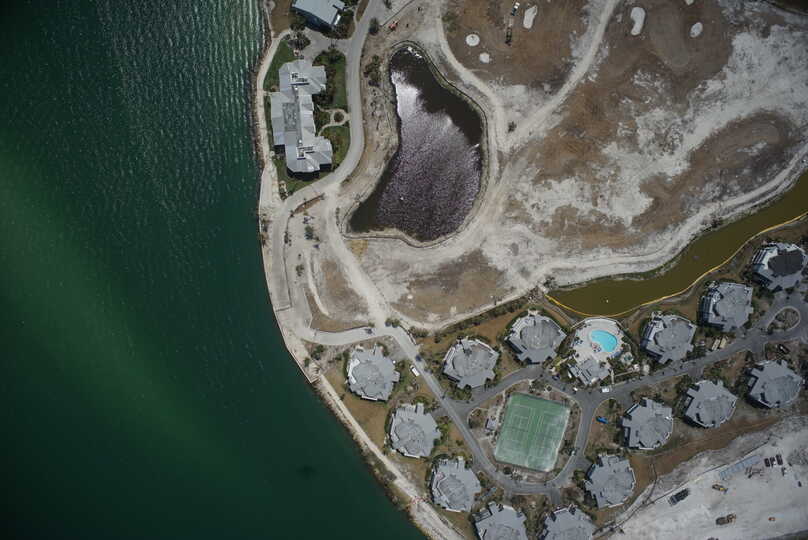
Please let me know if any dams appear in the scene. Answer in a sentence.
No, there's no dam here.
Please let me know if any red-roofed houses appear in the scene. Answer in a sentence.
No, there appears to be no red-roofed house in this shot.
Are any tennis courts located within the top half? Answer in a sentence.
No, there's no tennis court to be seen within the top half.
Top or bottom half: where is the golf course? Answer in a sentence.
The top half of the photo is where the golf course is.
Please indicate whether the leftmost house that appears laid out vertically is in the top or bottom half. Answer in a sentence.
The leftmost house that appears laid out vertically sits in the top half of the picture.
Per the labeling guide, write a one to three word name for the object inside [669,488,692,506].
vehicle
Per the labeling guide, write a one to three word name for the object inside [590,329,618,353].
swimming pool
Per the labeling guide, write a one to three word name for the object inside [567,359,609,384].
building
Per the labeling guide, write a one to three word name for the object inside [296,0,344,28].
house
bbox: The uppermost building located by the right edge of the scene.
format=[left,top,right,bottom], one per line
[746,242,808,291]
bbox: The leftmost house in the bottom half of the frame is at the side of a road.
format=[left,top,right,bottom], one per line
[347,351,400,403]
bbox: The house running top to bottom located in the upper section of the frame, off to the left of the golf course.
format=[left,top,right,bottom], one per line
[271,58,333,173]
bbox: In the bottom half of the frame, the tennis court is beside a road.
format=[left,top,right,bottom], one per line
[495,393,570,472]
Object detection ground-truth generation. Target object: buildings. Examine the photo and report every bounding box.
[271,58,333,173]
[680,375,742,426]
[635,316,698,366]
[546,504,599,540]
[745,355,806,407]
[511,313,568,363]
[746,242,808,291]
[430,460,483,514]
[622,396,676,448]
[588,453,638,507]
[347,351,400,403]
[296,0,344,28]
[696,281,757,334]
[471,508,531,540]
[443,339,499,389]
[388,408,441,461]
[567,359,609,384]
